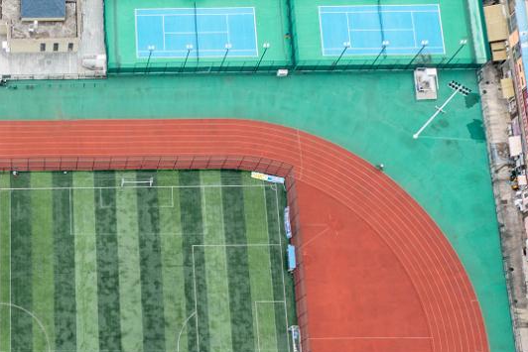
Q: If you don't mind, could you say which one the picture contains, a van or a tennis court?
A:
tennis court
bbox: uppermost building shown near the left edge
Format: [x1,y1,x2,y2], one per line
[0,0,82,52]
